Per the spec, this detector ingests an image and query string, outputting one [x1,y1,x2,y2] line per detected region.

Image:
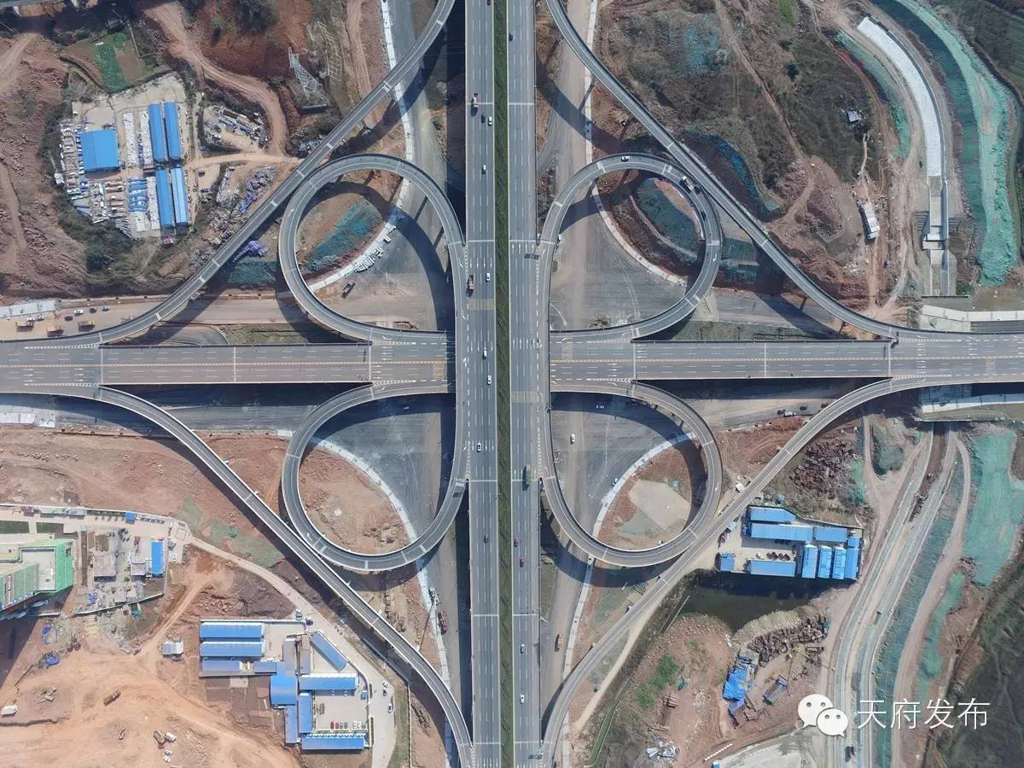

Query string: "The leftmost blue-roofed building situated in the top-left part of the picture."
[82,129,125,175]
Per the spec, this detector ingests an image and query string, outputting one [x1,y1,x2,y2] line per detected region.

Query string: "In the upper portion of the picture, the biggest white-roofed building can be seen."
[860,202,878,238]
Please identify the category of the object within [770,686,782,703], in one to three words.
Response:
vehicle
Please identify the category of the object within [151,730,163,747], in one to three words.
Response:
vehicle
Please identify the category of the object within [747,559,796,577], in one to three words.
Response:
shed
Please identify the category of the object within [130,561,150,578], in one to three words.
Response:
house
